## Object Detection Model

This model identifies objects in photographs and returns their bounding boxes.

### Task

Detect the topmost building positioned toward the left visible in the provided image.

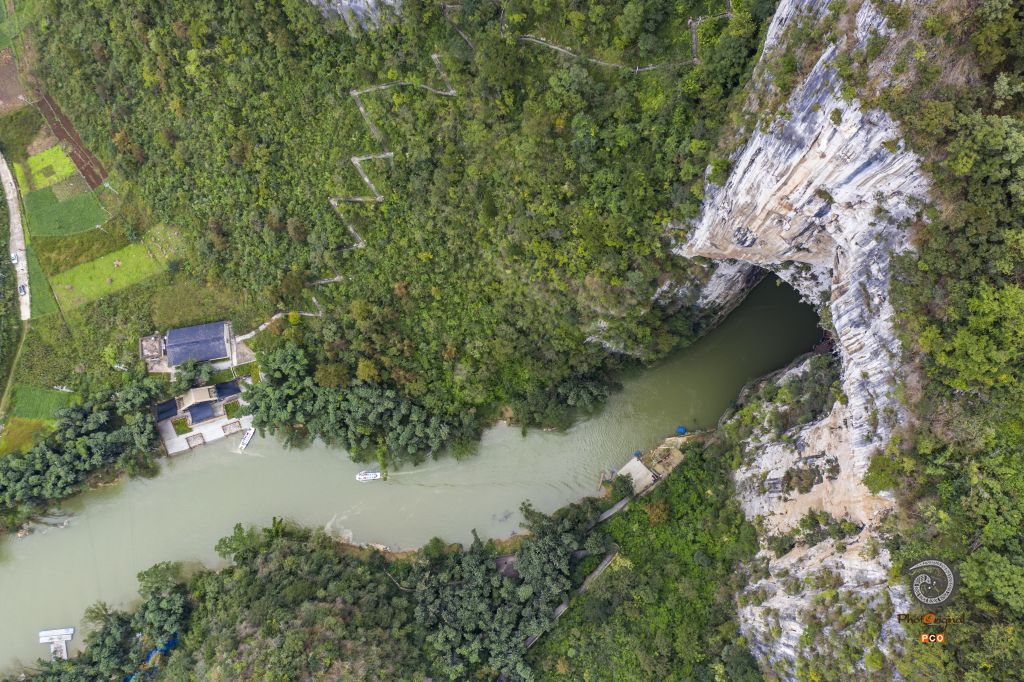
[165,321,235,366]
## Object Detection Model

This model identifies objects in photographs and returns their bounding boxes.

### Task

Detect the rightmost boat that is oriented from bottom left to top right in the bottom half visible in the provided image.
[239,429,255,449]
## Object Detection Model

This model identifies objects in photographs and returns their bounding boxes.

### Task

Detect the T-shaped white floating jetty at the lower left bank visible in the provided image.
[40,634,73,662]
